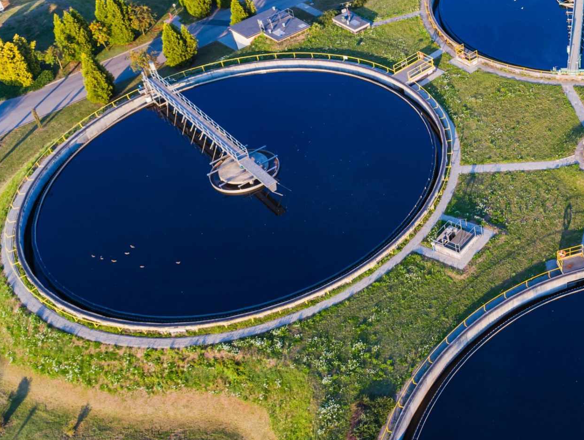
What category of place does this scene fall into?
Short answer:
industrial area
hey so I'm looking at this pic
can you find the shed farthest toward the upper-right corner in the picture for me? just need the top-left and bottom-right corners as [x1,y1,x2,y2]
[333,3,370,37]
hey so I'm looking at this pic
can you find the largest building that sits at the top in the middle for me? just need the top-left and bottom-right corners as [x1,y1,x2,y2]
[230,7,311,53]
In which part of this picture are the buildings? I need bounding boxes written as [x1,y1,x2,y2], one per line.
[230,7,311,53]
[333,3,370,37]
